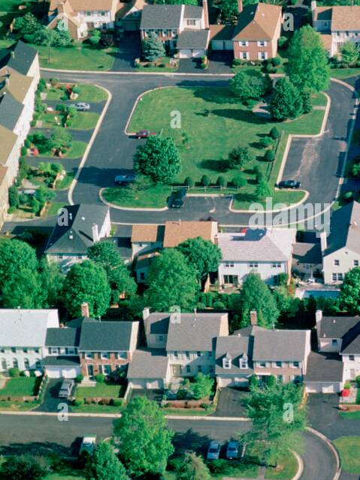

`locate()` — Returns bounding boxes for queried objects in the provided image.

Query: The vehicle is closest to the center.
[170,190,185,206]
